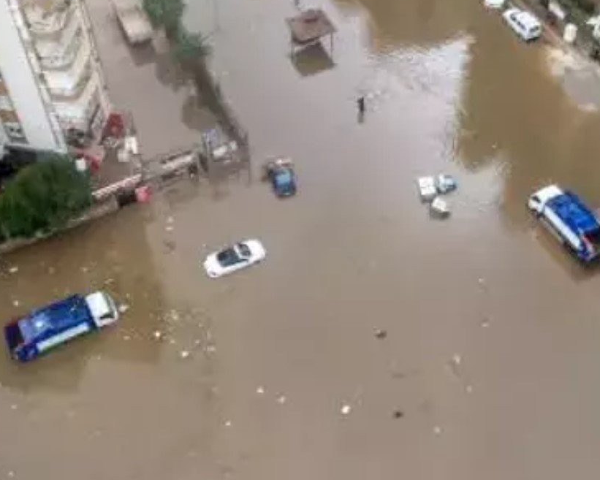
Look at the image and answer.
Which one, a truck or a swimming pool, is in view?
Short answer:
truck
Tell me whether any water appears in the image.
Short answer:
Yes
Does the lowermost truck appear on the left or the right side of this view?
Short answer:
left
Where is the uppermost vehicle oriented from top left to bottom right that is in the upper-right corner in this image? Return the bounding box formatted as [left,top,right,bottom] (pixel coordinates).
[502,2,541,32]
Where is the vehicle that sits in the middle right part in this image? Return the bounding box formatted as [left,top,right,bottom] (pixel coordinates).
[536,190,600,270]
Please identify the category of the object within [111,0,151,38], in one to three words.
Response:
van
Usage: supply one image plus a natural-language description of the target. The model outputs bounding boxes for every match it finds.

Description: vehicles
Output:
[0,292,113,369]
[265,163,298,199]
[536,190,600,270]
[203,234,266,272]
[502,2,541,32]
[111,0,151,38]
